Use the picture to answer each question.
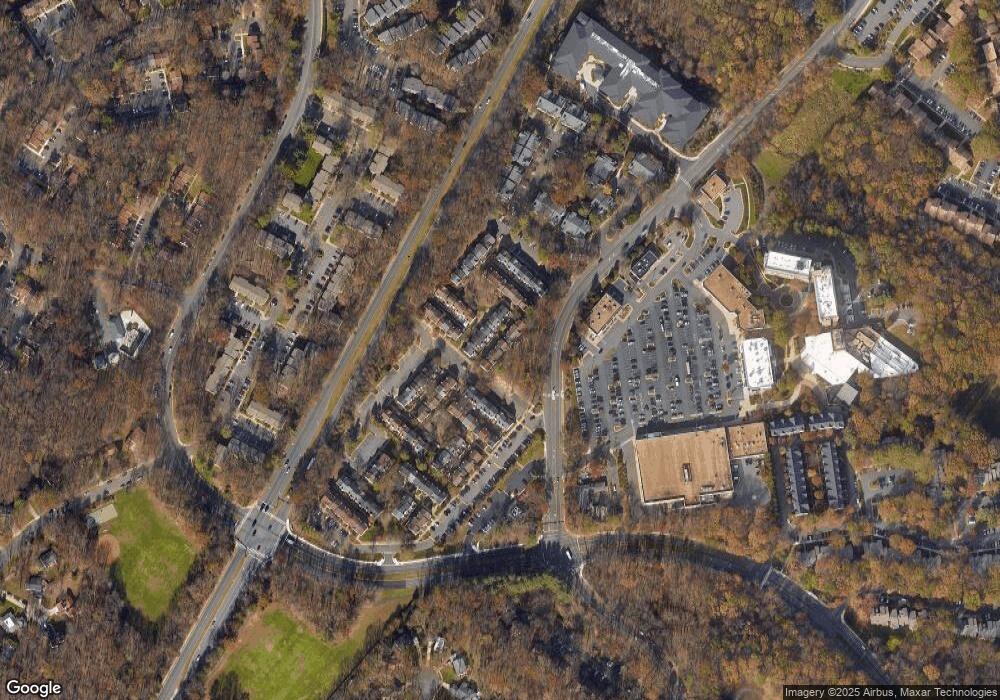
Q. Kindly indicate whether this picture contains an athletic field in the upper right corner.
No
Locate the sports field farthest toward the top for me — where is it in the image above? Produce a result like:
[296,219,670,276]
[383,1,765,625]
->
[93,485,193,618]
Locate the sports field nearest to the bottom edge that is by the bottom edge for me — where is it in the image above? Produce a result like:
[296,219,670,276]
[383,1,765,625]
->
[204,581,413,700]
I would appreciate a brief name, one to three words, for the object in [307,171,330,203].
building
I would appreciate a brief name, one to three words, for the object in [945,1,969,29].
house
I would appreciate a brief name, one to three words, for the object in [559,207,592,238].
house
